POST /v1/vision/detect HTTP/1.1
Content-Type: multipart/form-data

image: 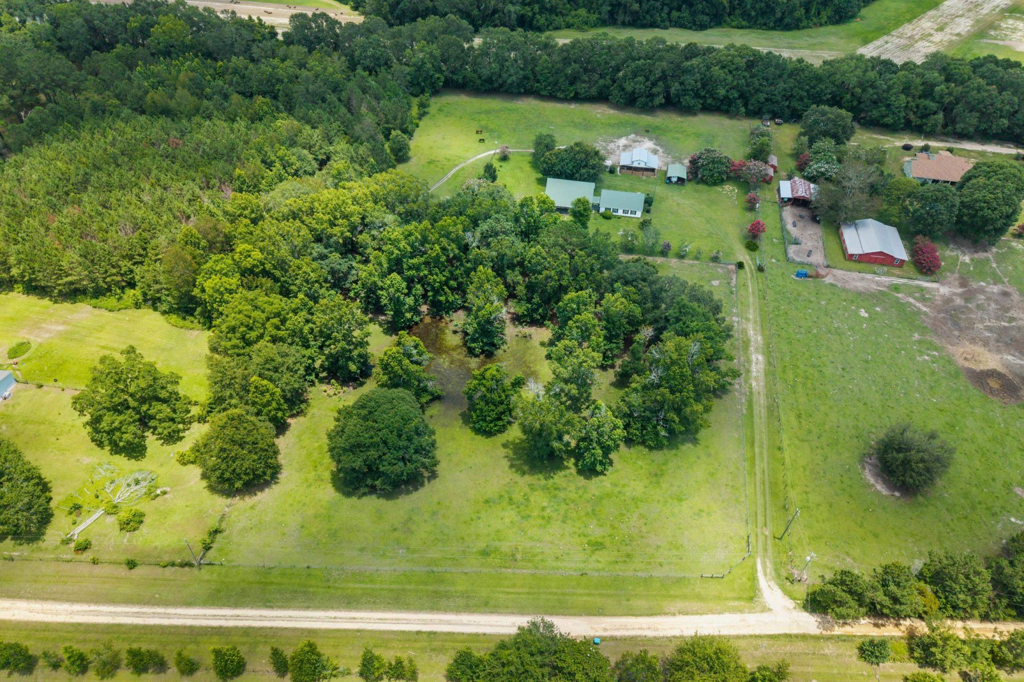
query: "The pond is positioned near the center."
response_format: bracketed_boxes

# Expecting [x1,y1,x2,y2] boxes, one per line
[409,317,545,427]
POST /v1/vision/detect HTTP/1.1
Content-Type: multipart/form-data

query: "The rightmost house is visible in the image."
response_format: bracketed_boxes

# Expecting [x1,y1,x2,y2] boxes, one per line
[904,149,984,189]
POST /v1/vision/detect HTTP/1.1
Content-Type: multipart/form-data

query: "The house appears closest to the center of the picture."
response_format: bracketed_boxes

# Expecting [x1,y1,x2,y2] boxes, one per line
[542,172,644,217]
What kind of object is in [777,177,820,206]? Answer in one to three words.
barn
